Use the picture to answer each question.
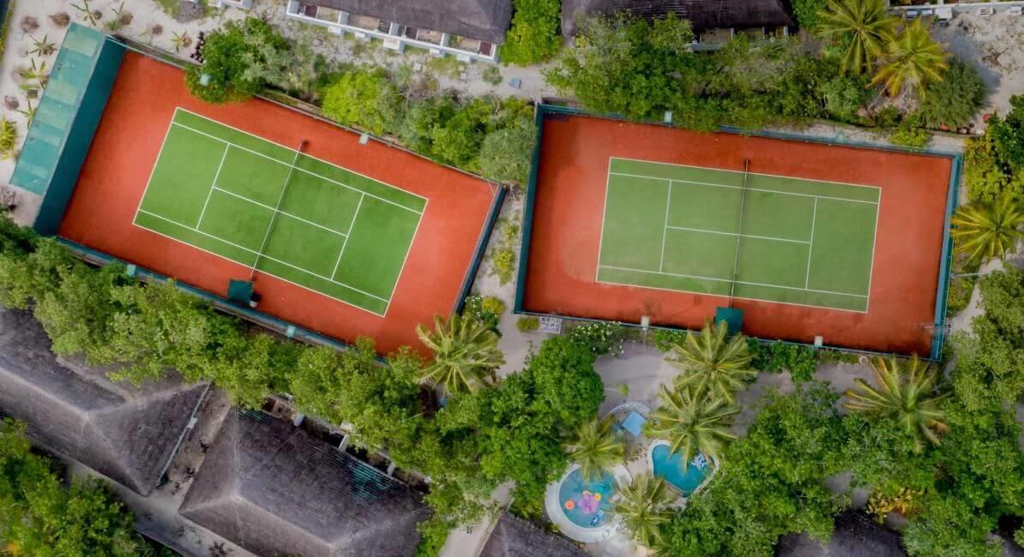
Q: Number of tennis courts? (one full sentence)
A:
Altogether the scene contains 2 tennis courts.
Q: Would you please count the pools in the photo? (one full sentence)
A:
In total, 2 pools can be seen.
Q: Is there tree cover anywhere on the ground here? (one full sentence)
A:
Yes, tree cover shows up in the scene.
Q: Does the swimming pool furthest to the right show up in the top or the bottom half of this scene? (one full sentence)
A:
Seen from above, the swimming pool furthest to the right lies in the bottom half of the view.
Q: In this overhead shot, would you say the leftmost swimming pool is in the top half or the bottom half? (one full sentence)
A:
The bottom half of the photo is where the leftmost swimming pool is.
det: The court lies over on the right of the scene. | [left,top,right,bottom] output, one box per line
[524,114,951,355]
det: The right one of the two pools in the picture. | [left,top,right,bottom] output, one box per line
[649,439,717,500]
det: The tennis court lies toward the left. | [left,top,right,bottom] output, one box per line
[58,49,496,376]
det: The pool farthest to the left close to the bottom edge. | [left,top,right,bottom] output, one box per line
[545,461,625,543]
